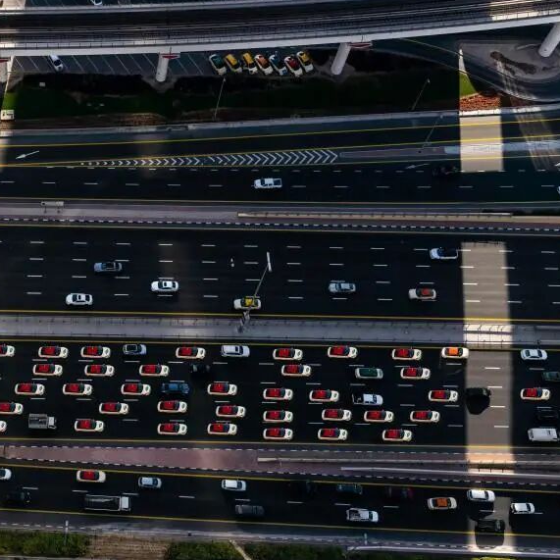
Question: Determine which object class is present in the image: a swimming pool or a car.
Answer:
car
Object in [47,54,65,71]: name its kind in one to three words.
car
